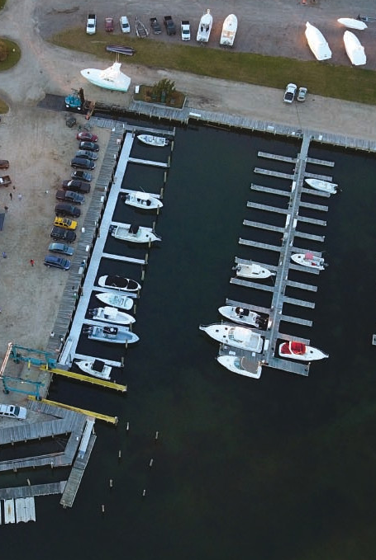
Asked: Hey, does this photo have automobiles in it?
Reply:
Yes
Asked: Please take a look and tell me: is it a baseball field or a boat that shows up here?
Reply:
boat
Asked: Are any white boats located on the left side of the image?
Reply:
Yes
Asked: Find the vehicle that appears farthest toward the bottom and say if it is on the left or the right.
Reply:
left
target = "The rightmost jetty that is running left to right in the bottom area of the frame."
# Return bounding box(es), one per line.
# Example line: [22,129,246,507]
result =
[219,345,309,376]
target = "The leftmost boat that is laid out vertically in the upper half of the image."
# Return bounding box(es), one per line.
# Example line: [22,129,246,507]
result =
[195,7,214,44]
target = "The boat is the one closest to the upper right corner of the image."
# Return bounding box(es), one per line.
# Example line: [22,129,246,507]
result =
[337,17,368,34]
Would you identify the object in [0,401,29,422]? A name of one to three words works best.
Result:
vehicle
